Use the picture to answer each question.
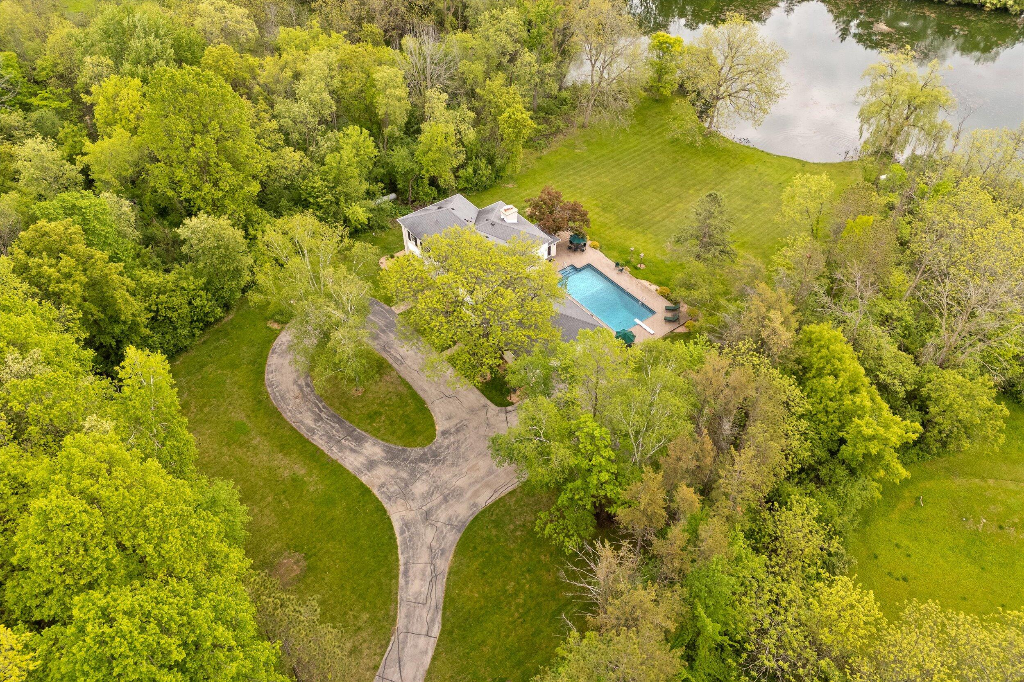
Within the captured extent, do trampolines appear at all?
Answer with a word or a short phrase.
No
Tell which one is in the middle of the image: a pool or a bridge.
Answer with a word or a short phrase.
pool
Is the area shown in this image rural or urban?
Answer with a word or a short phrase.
rural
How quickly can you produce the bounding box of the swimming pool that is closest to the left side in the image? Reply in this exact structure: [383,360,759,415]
[550,260,658,333]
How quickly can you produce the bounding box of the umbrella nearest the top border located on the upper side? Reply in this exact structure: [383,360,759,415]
[569,234,587,247]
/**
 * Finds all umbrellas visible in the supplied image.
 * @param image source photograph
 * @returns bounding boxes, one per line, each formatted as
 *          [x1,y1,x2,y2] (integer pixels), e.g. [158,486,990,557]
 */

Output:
[614,330,637,345]
[569,234,587,247]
